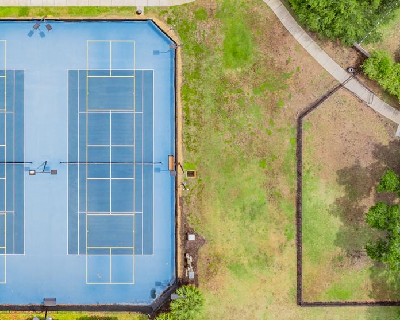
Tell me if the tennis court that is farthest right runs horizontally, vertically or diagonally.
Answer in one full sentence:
From this overhead view, the tennis court that is farthest right appears to run vertically.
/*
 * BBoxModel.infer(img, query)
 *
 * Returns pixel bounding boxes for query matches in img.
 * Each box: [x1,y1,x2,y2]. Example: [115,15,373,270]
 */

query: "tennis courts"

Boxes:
[0,40,25,284]
[68,40,154,284]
